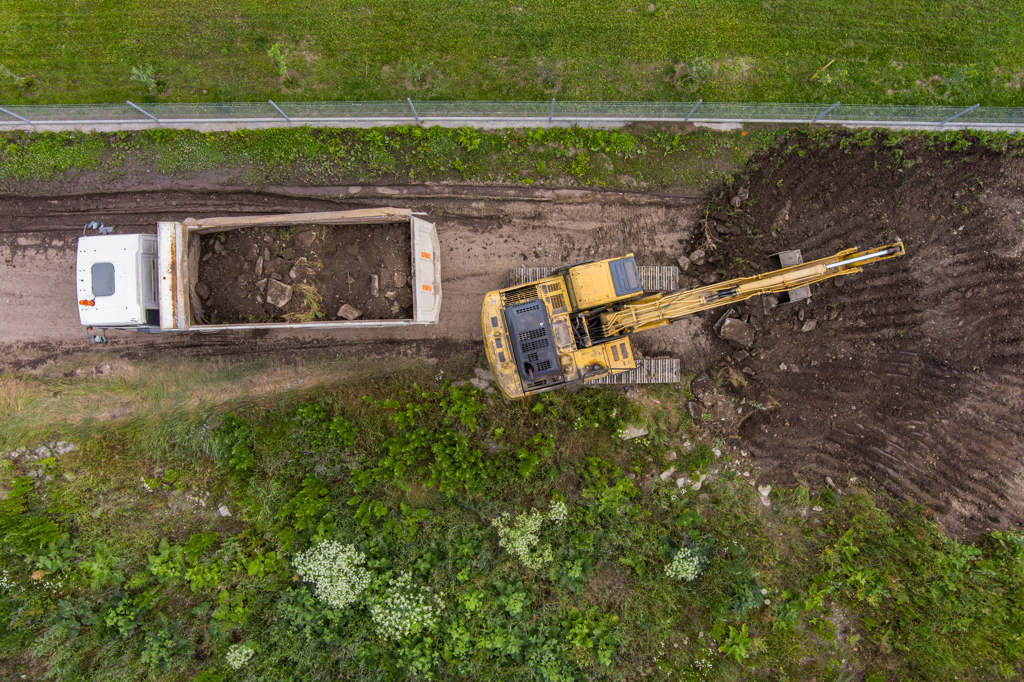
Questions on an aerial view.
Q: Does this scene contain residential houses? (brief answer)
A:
No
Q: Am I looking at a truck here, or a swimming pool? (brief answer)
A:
truck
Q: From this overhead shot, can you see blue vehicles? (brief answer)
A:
No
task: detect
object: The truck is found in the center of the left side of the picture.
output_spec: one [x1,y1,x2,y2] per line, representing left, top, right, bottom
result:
[78,207,443,343]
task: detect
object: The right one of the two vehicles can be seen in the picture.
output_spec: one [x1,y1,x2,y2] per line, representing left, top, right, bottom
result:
[481,242,904,400]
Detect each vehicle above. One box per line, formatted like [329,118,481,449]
[78,207,443,343]
[481,242,904,400]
